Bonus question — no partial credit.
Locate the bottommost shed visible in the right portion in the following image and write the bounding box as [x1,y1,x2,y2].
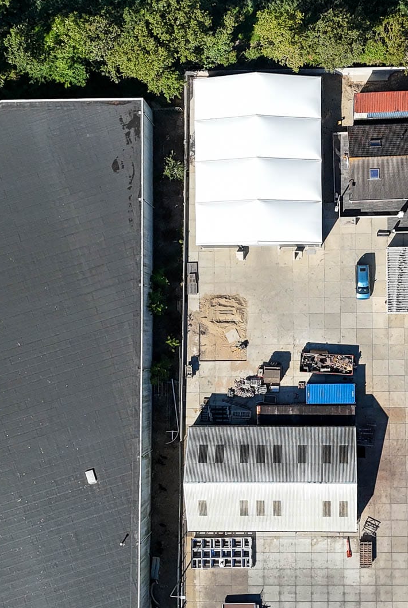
[184,424,359,532]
